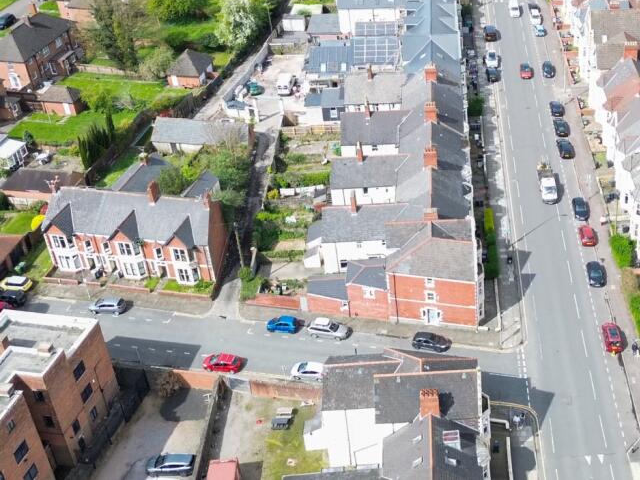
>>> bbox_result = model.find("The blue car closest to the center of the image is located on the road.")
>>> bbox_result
[262,315,303,335]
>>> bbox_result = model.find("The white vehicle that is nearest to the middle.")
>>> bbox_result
[302,317,349,341]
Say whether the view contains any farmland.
No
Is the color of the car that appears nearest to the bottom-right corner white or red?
red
